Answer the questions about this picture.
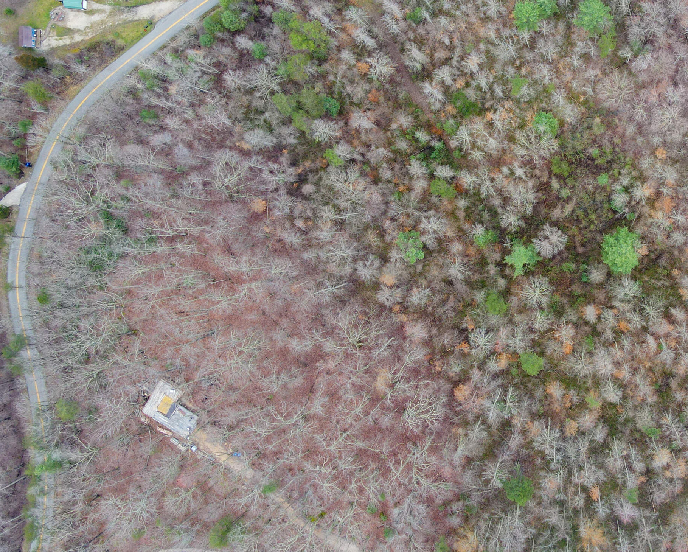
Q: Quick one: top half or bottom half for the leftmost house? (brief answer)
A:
top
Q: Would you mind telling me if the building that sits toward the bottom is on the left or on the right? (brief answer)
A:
left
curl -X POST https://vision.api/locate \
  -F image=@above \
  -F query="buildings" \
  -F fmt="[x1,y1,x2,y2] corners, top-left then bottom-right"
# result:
[17,24,44,49]
[142,382,198,438]
[61,0,93,12]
